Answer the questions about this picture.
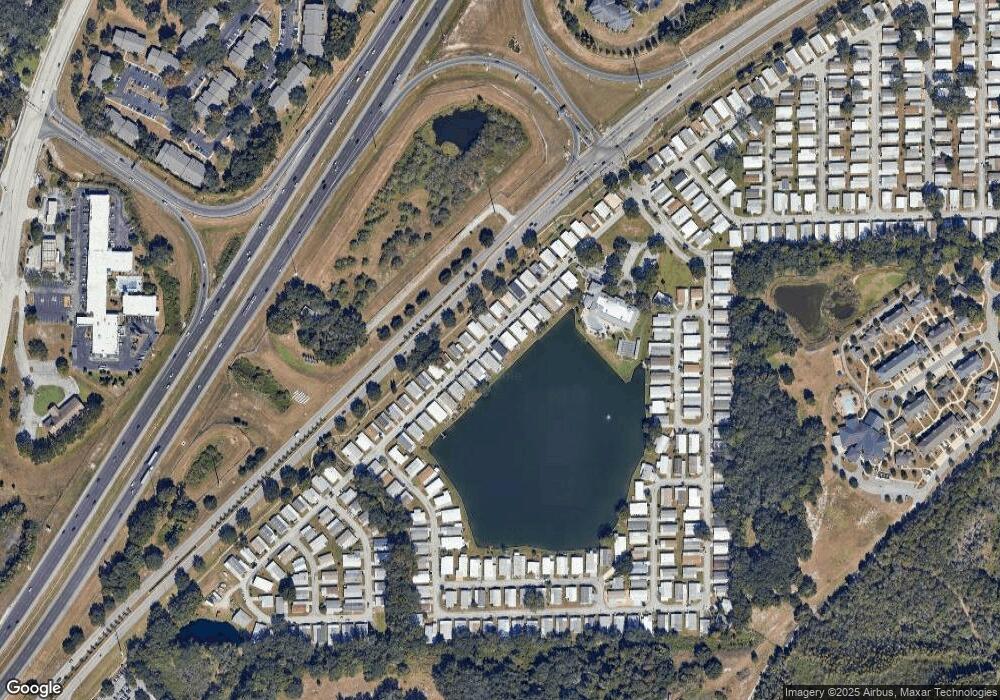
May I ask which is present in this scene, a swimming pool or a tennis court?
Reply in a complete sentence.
Looking from above, you can make out a swimming pool.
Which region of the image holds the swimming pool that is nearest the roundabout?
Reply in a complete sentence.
The swimming pool that is nearest the roundabout is in the right part of the image.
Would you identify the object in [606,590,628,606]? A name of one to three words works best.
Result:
house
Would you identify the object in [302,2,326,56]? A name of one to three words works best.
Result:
building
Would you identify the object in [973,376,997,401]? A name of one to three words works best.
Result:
house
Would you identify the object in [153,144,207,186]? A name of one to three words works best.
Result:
building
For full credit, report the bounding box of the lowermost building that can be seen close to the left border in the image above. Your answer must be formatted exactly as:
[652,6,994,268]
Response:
[43,394,85,434]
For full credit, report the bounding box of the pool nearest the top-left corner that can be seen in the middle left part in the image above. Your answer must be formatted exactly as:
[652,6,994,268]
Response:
[117,276,141,293]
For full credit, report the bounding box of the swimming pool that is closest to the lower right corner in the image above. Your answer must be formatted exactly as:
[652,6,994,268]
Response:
[837,389,859,418]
